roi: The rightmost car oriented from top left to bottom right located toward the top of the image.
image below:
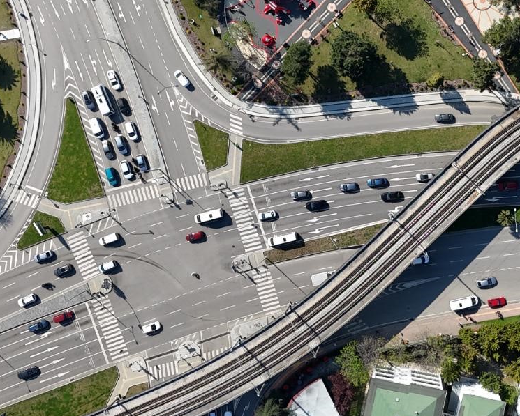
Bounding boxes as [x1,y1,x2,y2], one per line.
[172,69,191,89]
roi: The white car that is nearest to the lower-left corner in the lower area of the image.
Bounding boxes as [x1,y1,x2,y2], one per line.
[19,294,38,307]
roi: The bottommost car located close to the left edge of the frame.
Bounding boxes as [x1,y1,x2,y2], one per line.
[17,366,40,380]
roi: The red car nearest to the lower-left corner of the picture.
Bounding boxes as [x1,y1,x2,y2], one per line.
[52,309,75,325]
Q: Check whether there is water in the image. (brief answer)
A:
No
